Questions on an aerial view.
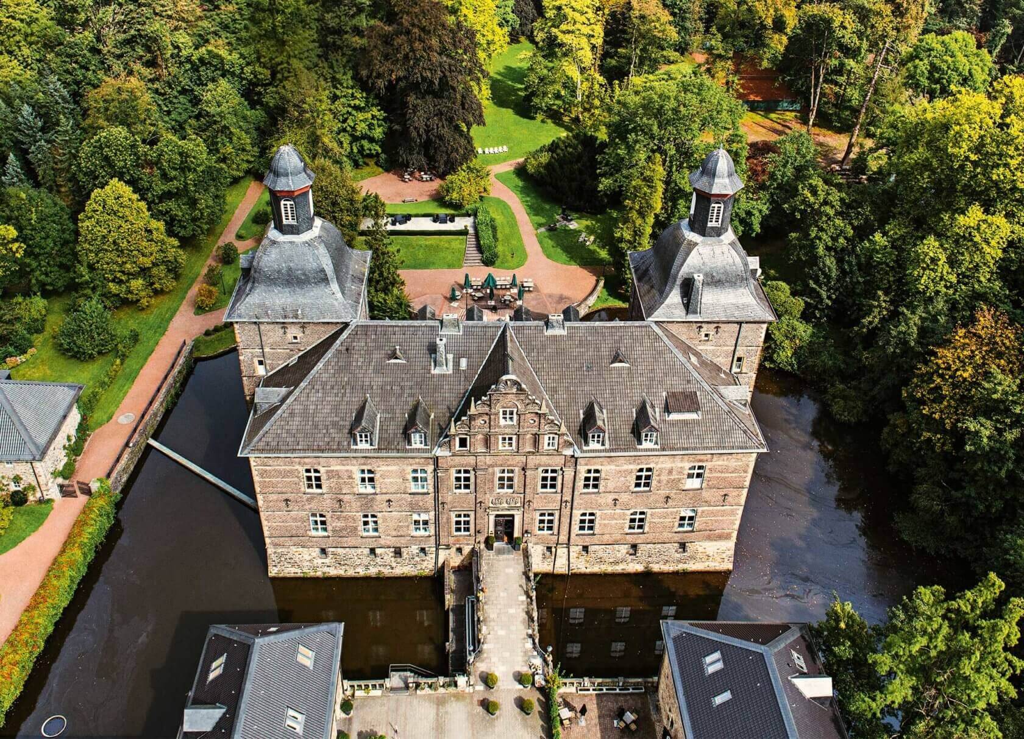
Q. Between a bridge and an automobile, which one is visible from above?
bridge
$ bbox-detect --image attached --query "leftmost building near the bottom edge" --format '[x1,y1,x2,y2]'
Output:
[174,620,346,739]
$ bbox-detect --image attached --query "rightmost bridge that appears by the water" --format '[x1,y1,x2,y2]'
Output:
[466,540,555,684]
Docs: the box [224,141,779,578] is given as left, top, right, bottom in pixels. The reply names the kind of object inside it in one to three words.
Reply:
building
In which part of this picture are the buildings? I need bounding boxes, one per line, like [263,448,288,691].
[174,620,346,739]
[224,141,779,578]
[0,353,87,501]
[658,617,849,739]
